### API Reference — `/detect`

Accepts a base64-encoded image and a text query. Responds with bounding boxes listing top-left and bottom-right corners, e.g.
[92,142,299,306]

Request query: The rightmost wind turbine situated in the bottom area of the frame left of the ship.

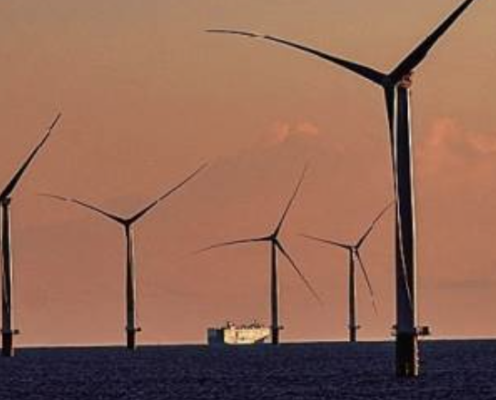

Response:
[39,164,206,349]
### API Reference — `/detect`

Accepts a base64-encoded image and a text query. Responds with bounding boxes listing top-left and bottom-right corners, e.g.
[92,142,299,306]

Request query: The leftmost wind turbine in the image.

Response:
[0,116,59,355]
